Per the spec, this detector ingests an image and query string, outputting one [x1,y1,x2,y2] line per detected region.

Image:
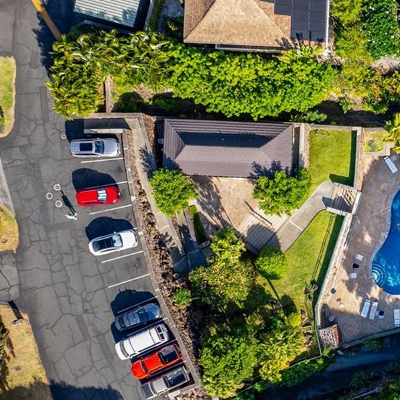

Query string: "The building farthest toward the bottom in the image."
[162,118,293,178]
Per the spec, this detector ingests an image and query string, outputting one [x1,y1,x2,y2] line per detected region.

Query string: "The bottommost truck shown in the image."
[145,366,194,398]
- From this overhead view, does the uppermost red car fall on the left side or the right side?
left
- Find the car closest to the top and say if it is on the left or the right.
left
